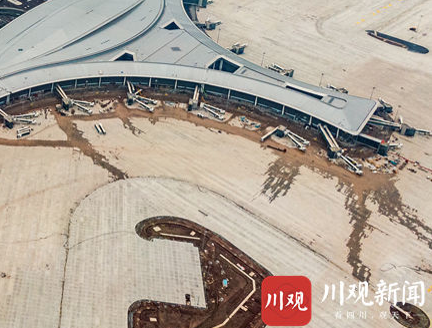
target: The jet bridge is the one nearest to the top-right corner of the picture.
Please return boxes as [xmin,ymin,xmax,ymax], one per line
[376,97,392,115]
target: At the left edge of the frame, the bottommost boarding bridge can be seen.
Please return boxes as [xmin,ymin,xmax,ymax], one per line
[0,109,40,129]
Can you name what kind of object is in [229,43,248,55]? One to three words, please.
jet bridge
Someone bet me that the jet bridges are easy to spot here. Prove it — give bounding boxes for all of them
[369,114,432,139]
[320,128,365,171]
[0,109,40,129]
[376,97,392,115]
[58,89,95,116]
[266,63,293,77]
[229,43,248,55]
[259,128,312,151]
[195,22,223,32]
[126,83,158,113]
[184,0,215,9]
[188,90,227,122]
[357,133,405,157]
